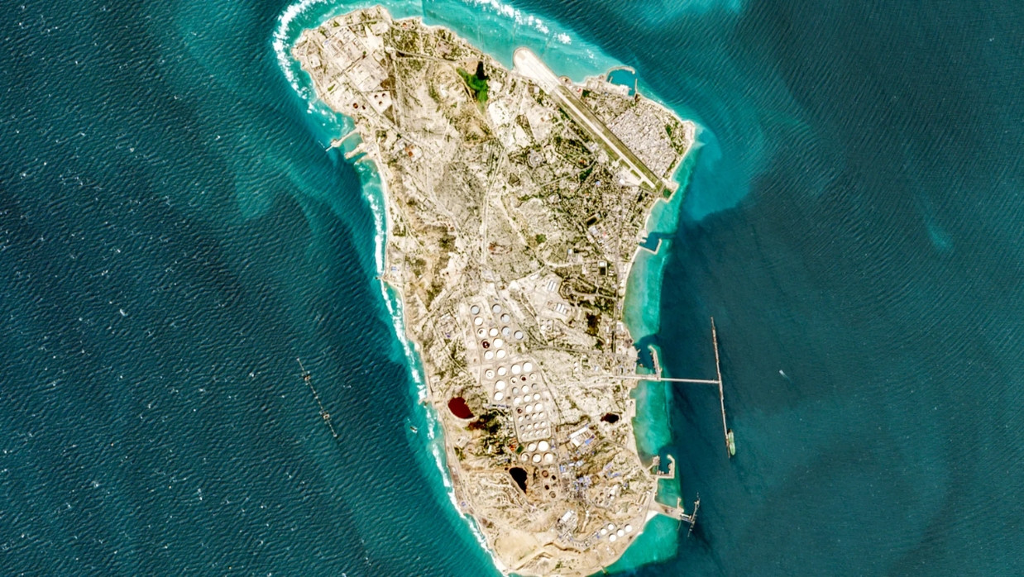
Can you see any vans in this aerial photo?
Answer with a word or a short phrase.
No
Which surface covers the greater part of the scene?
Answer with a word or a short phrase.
water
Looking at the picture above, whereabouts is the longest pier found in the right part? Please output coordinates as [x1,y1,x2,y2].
[653,317,730,458]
